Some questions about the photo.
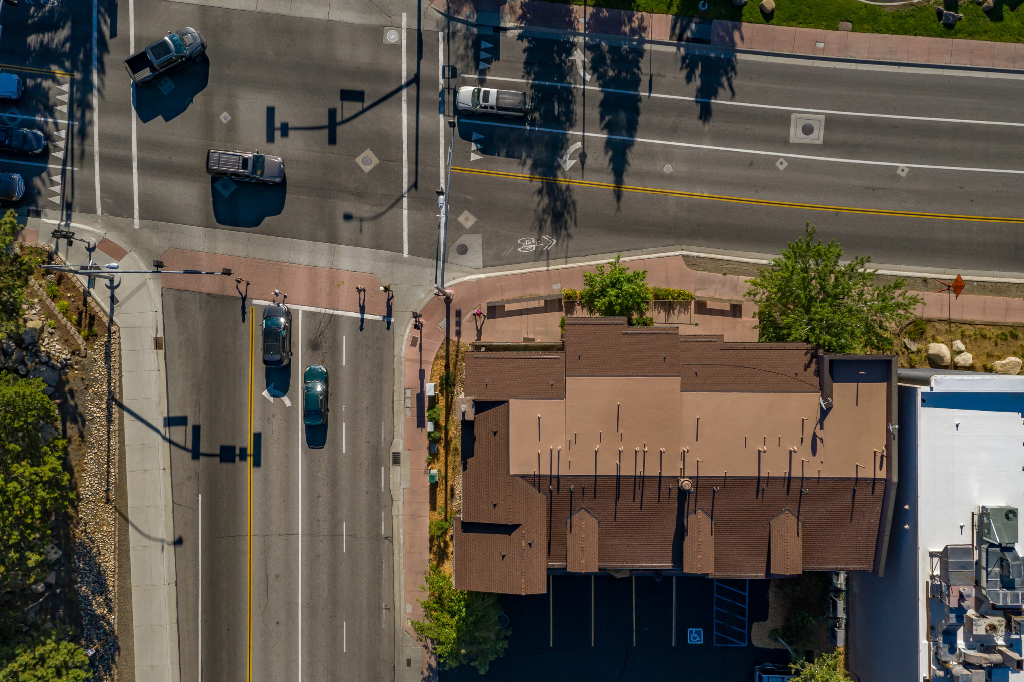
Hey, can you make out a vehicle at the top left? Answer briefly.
Yes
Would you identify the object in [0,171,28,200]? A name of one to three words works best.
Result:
car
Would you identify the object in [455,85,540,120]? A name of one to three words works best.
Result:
truck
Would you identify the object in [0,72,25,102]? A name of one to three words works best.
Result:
car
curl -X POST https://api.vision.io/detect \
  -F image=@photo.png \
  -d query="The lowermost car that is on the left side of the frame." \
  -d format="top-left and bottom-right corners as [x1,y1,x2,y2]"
[300,364,329,425]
